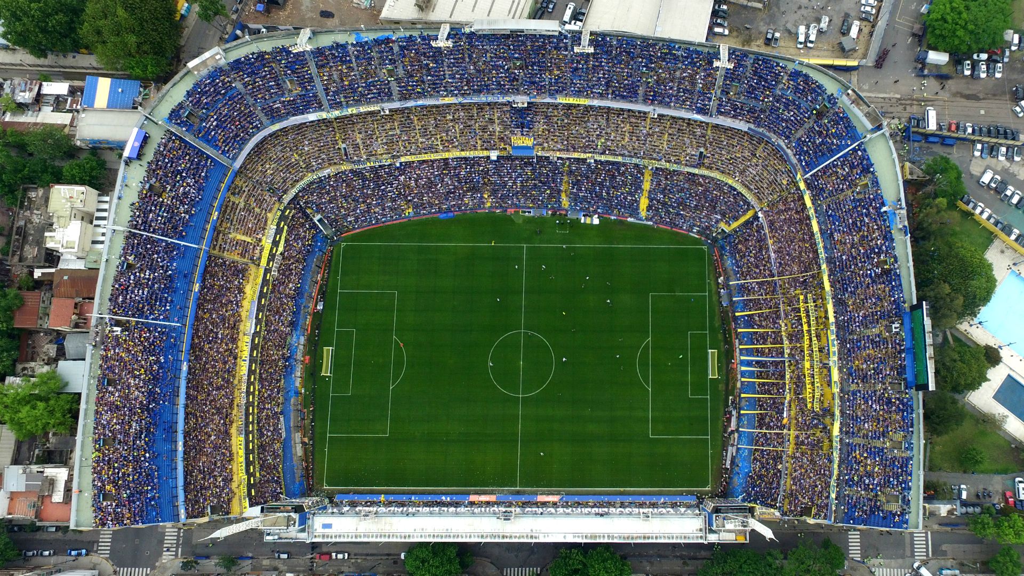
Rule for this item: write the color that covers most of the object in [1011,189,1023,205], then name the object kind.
white vehicle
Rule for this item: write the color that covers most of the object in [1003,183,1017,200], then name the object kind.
white vehicle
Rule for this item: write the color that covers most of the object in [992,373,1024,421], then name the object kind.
blue swimming pool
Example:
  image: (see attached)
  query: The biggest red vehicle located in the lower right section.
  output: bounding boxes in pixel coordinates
[1005,491,1018,509]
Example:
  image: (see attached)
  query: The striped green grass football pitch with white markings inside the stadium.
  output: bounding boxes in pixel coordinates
[313,211,721,489]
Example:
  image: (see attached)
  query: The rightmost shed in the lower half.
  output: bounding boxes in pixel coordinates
[922,502,960,517]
